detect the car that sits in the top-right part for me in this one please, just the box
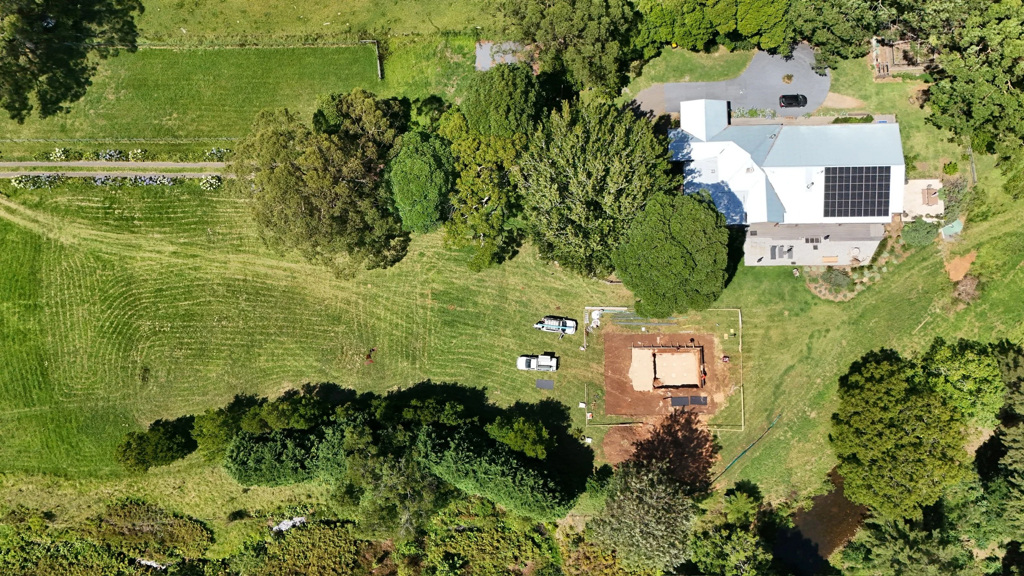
[778,92,808,108]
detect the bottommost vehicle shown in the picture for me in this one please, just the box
[517,355,559,372]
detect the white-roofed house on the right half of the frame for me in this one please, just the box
[669,99,904,225]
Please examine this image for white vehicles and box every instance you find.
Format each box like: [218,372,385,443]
[533,316,578,339]
[517,355,559,372]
